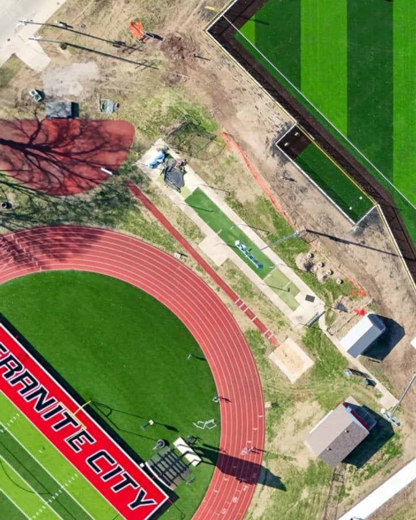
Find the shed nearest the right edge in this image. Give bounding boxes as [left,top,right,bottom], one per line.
[340,311,387,357]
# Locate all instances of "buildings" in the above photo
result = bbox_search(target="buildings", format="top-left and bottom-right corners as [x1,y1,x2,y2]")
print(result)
[307,395,371,467]
[46,100,76,118]
[340,311,387,357]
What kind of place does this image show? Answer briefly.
sports ground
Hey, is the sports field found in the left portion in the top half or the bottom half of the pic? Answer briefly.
bottom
